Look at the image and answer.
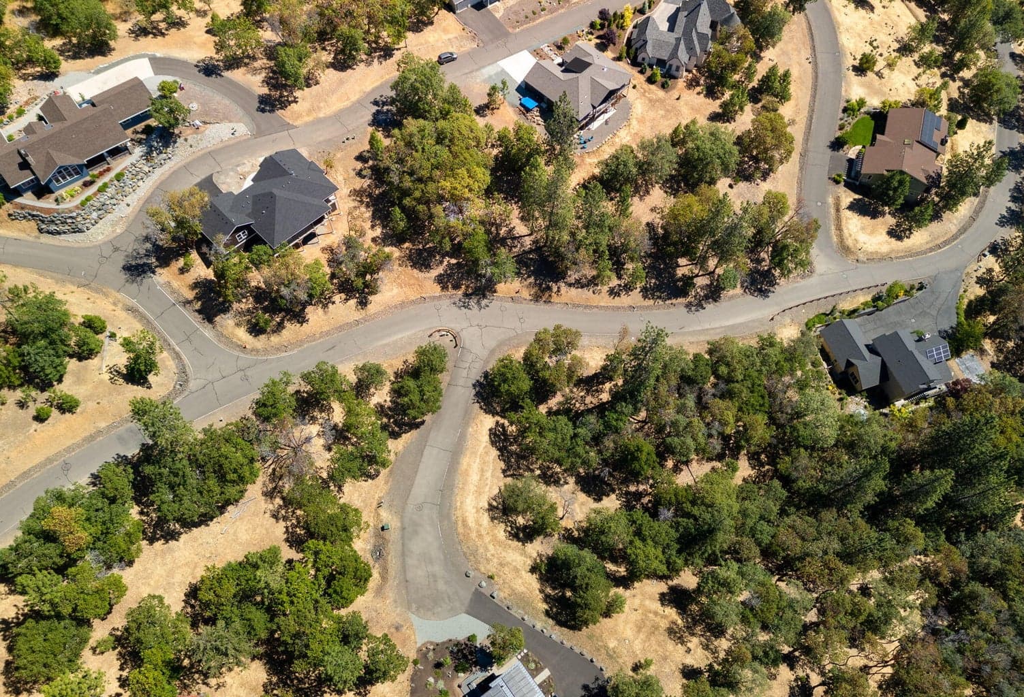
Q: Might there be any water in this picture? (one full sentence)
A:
No, there is no water in the image.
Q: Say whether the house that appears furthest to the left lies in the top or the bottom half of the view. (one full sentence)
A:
You can find the house that appears furthest to the left in the top half.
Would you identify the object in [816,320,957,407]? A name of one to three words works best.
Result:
house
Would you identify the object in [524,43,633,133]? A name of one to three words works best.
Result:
house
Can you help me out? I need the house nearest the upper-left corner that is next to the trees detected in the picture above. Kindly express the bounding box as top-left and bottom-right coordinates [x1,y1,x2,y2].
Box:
[0,79,152,194]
